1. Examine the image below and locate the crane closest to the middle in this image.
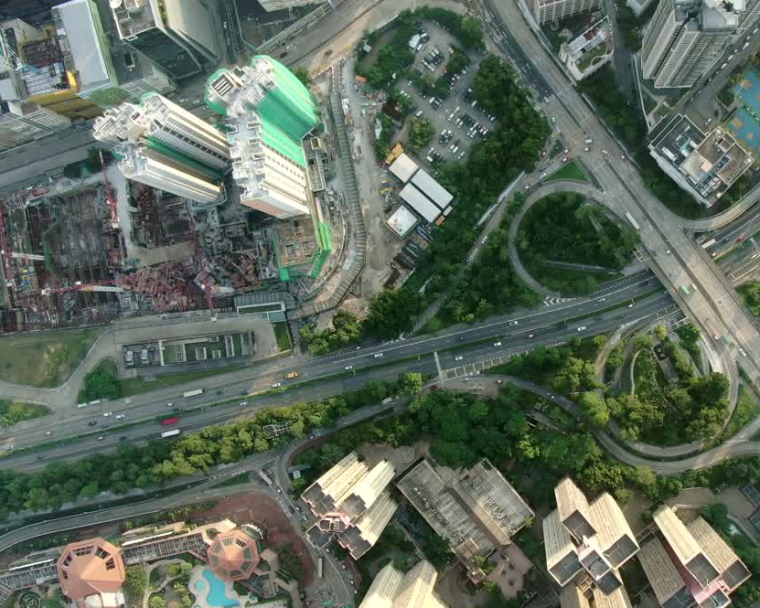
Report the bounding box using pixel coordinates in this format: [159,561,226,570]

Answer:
[191,216,233,322]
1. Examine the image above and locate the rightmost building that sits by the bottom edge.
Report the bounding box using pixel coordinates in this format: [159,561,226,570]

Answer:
[640,510,751,608]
